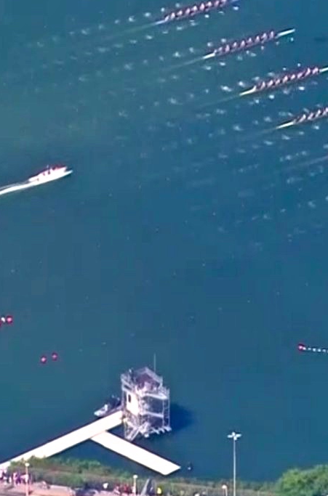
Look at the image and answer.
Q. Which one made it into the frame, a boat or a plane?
boat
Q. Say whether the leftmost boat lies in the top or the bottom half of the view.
top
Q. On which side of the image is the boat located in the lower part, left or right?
left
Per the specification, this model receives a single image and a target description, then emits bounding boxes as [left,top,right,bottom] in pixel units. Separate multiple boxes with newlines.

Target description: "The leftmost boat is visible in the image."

[27,162,70,185]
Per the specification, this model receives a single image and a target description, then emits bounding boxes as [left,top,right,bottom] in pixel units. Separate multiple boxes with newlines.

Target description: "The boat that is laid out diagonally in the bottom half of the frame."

[95,392,123,413]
